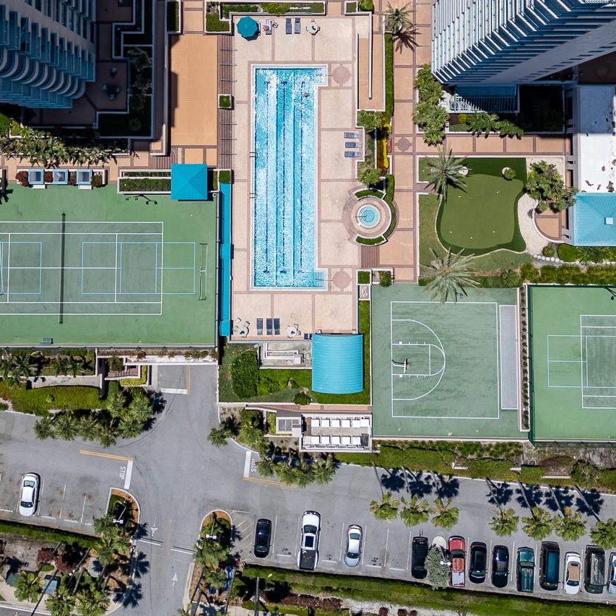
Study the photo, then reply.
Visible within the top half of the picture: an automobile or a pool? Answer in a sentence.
There is a pool within the top half of the picture.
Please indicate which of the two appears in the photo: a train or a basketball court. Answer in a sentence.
Of the two, only a basketball court appears.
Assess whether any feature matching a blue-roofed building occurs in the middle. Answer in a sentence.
Yes, you'll find a blue-roofed building in the middle.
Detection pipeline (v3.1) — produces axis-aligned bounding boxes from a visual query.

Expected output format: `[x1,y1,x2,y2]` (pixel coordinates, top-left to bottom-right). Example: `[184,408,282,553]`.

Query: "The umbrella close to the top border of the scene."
[236,16,258,39]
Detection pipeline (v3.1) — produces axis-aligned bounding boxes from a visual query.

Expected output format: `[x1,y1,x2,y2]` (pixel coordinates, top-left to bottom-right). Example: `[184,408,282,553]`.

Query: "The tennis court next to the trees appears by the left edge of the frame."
[0,186,214,345]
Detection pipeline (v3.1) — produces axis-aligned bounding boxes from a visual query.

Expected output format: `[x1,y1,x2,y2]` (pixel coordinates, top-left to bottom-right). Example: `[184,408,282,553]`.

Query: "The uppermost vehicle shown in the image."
[18,473,41,514]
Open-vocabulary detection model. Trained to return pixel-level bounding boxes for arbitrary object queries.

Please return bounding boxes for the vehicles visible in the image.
[491,544,510,586]
[447,533,466,584]
[18,473,41,514]
[253,516,272,557]
[410,535,429,577]
[300,513,319,565]
[562,552,581,591]
[468,540,487,582]
[539,542,558,586]
[514,542,535,593]
[583,544,604,589]
[343,522,362,565]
